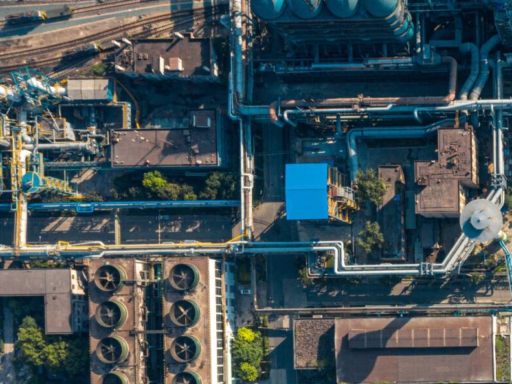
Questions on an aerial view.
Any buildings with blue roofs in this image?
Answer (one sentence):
Yes, there's a building with a blue roof down there.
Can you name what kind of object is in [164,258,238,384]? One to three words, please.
cooling tower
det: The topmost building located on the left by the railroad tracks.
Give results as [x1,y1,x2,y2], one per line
[109,30,222,82]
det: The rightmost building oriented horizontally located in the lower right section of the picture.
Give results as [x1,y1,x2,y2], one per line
[336,316,512,383]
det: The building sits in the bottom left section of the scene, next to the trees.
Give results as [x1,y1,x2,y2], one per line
[0,269,89,334]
